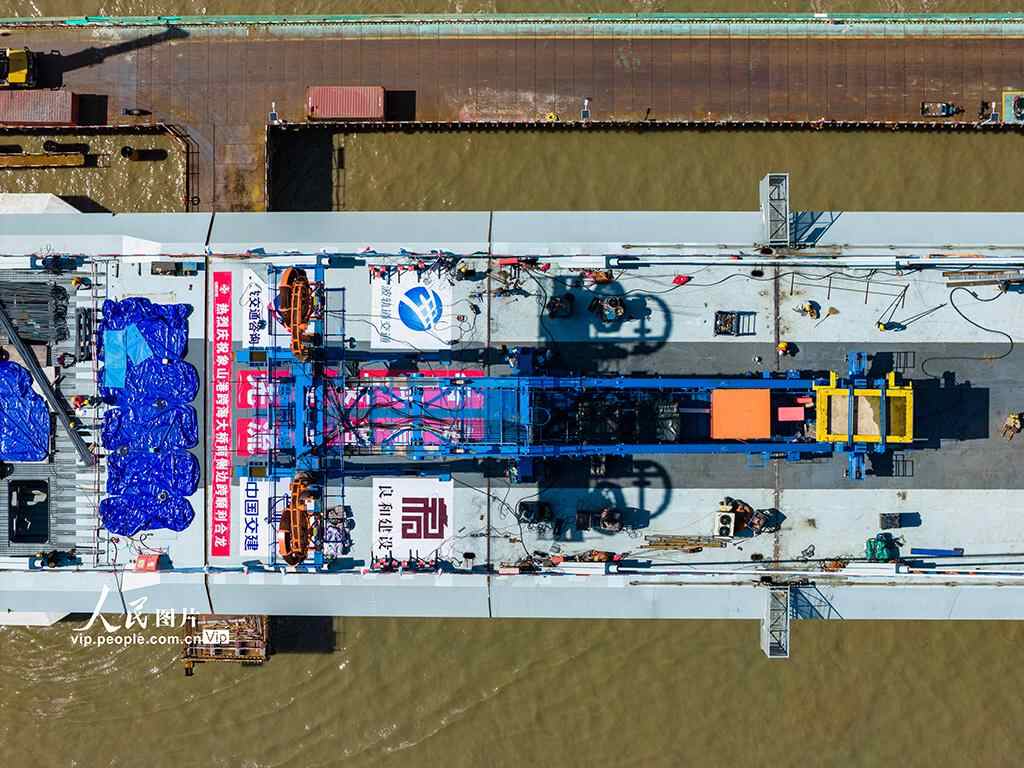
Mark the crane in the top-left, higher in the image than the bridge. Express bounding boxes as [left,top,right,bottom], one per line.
[0,48,46,91]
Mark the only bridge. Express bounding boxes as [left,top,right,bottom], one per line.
[0,211,1024,618]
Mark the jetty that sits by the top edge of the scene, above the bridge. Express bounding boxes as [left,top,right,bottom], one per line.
[0,13,1024,212]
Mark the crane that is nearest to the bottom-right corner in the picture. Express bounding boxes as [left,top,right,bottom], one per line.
[212,263,913,570]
